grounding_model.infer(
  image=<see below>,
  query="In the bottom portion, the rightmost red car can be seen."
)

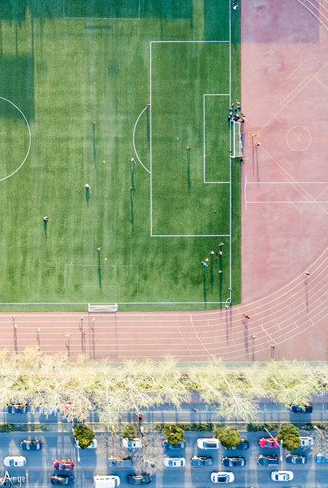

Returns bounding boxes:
[256,436,280,448]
